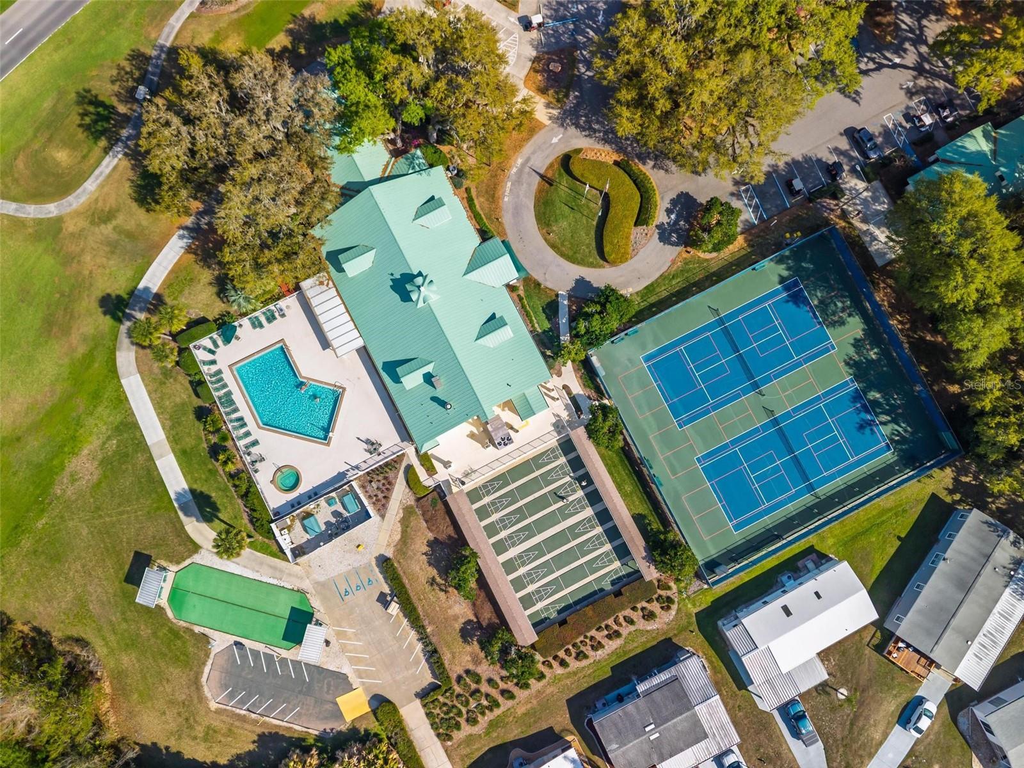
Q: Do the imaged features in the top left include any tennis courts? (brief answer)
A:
No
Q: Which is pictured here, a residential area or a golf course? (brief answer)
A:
residential area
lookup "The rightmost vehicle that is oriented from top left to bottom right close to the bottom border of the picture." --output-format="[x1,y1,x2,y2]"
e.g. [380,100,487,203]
[788,700,821,743]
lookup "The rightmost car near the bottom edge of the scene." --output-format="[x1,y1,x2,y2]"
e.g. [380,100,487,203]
[908,698,937,735]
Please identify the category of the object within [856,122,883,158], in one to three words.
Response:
car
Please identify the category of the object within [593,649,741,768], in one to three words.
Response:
house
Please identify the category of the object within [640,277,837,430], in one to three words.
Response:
tennis court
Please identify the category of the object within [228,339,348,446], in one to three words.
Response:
swimming pool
